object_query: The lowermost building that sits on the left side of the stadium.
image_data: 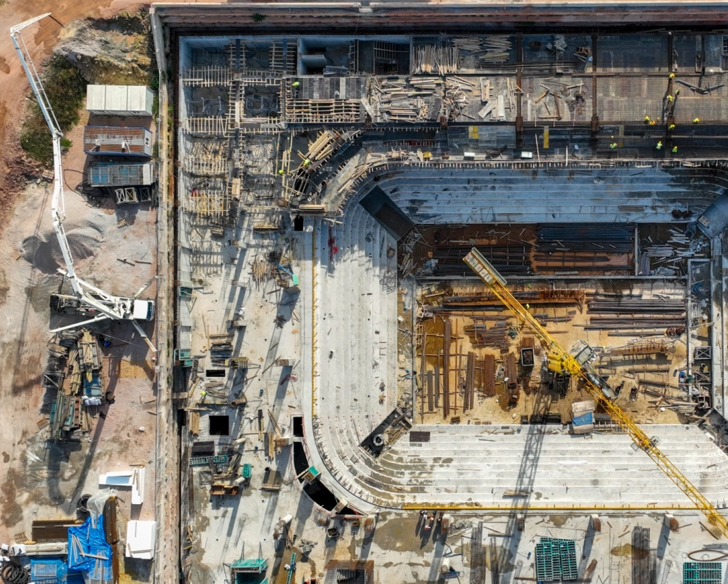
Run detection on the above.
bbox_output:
[87,162,159,188]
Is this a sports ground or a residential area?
sports ground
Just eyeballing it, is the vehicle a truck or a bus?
truck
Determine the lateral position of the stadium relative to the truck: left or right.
on the right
